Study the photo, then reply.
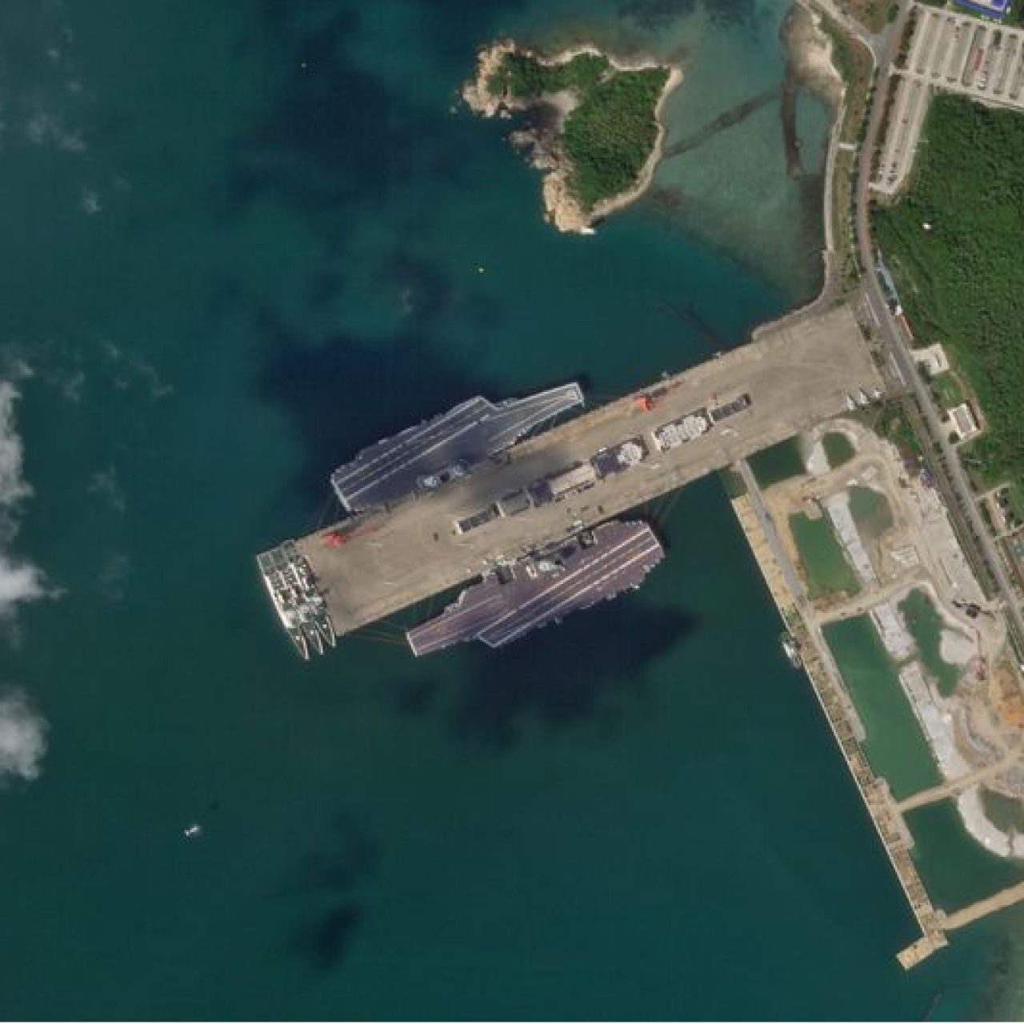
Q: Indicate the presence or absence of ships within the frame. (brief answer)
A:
Yes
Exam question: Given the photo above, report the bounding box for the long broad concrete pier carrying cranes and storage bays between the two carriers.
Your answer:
[293,302,884,639]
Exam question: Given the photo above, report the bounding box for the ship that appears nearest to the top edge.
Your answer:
[330,382,585,514]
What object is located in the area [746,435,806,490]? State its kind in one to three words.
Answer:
pond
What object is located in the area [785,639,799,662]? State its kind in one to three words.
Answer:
boat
